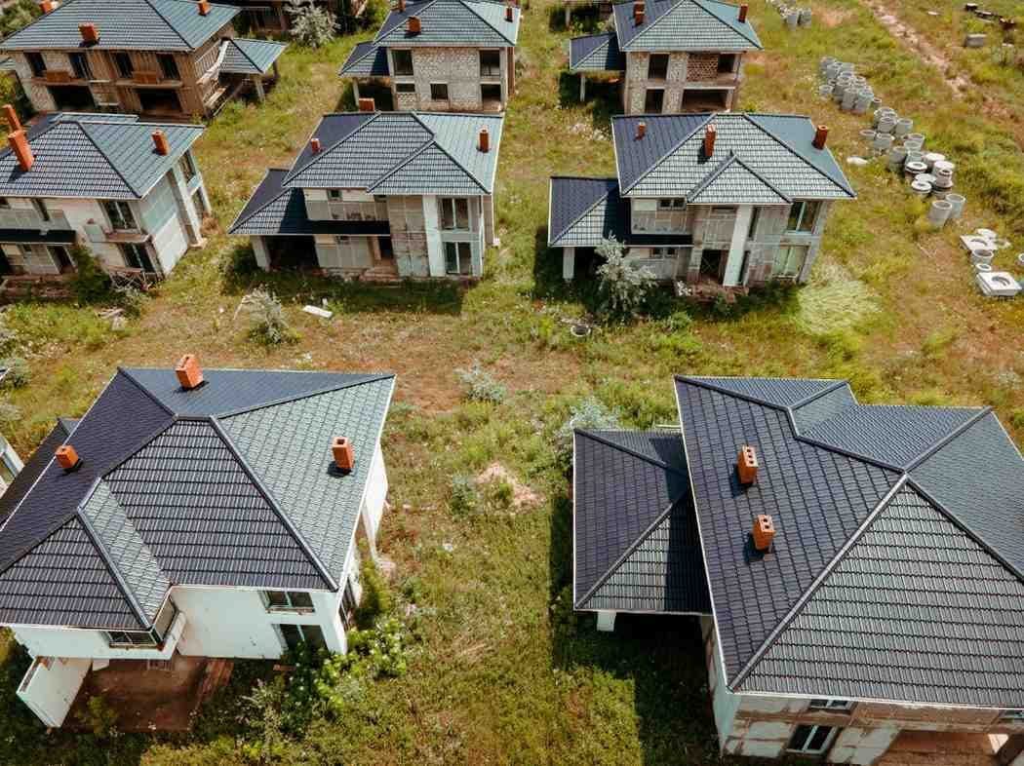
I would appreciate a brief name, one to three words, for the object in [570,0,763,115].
house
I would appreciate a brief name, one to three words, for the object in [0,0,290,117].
house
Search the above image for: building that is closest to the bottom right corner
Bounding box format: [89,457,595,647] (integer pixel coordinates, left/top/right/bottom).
[571,376,1024,766]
